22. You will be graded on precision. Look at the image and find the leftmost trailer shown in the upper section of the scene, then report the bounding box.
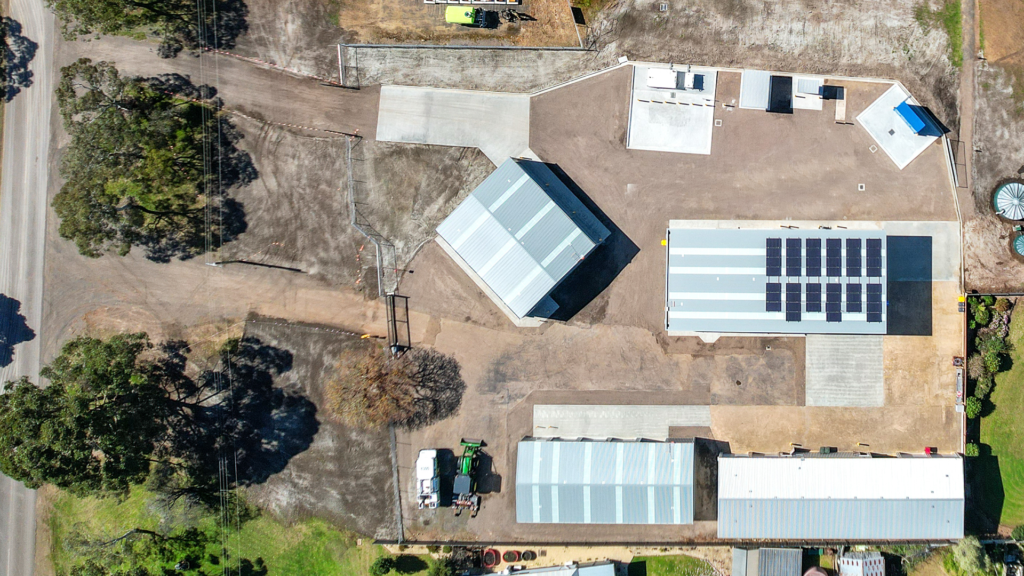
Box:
[446,7,490,29]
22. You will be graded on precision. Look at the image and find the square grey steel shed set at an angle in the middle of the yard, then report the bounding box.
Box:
[436,157,598,320]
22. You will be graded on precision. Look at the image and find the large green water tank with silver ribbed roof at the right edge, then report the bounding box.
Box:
[991,181,1024,221]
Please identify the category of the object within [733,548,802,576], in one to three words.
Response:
shed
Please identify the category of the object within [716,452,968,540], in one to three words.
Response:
shed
